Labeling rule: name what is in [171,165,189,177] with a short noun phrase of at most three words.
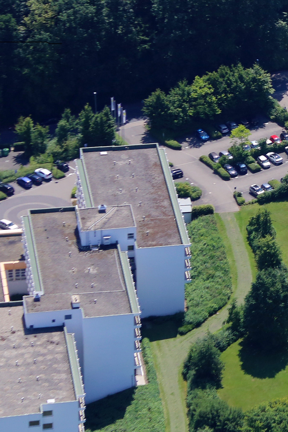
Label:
vehicle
